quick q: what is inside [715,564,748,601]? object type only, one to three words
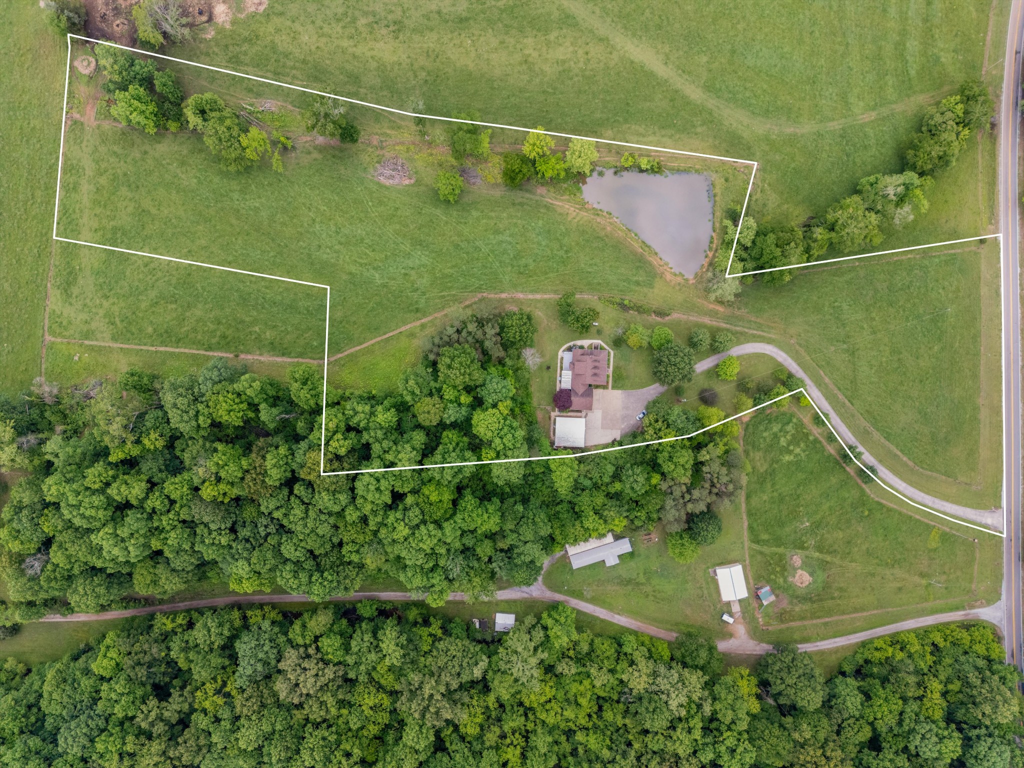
barn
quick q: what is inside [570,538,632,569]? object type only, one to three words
building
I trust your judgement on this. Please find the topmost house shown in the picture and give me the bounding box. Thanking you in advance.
[561,342,610,410]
